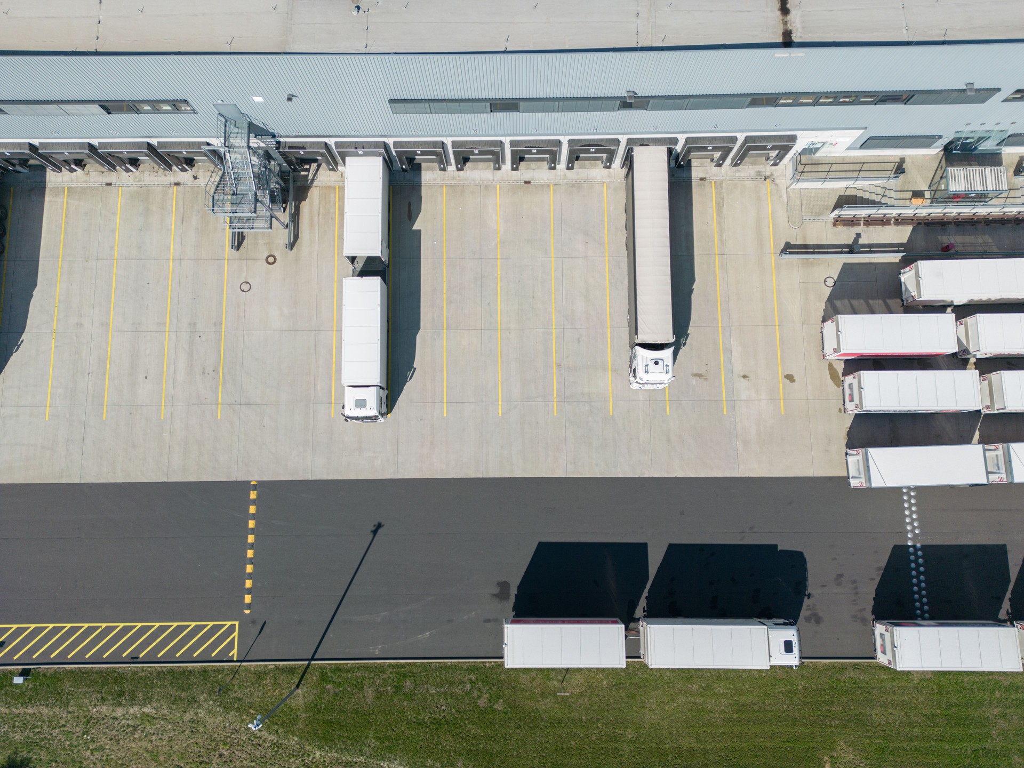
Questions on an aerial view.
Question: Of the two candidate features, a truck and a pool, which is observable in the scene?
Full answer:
Of the two, only a truck appears.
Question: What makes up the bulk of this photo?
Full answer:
The scene is dominated by paved ground.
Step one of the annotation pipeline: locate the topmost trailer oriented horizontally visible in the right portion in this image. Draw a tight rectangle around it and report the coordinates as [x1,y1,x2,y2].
[893,259,1024,310]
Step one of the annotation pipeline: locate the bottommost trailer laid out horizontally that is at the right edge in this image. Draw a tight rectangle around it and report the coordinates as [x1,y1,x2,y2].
[869,616,1021,671]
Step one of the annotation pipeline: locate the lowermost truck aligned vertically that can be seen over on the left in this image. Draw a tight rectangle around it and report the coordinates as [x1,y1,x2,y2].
[342,276,389,423]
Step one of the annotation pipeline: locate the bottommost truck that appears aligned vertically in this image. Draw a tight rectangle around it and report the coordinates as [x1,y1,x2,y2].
[1001,617,1024,665]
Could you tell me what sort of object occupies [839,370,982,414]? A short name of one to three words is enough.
trailer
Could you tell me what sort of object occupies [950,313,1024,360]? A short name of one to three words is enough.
truck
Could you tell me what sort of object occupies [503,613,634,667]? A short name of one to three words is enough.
trailer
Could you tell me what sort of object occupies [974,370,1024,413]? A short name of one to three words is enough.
truck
